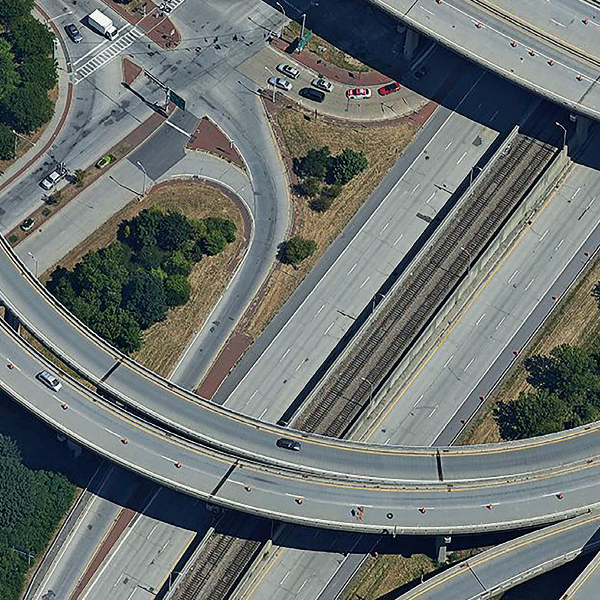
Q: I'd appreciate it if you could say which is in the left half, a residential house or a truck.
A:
truck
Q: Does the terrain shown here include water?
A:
No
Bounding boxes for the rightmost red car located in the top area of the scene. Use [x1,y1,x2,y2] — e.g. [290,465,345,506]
[378,83,401,97]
